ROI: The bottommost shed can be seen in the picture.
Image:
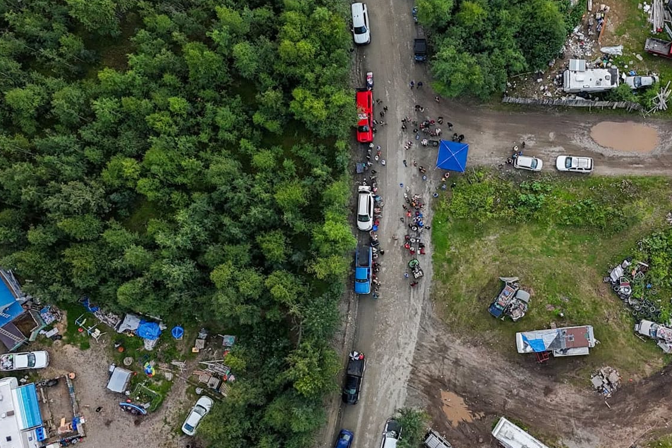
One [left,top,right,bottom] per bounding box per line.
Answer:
[107,367,137,393]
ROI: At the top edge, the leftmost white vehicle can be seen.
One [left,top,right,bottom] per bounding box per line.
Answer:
[351,3,372,47]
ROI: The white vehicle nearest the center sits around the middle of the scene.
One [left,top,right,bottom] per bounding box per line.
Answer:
[355,189,375,230]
